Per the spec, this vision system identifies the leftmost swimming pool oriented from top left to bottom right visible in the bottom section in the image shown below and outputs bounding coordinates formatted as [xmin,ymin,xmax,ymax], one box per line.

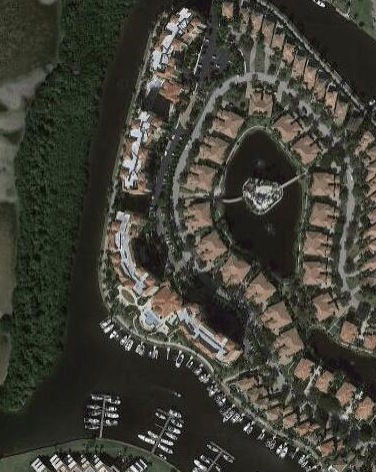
[120,287,173,335]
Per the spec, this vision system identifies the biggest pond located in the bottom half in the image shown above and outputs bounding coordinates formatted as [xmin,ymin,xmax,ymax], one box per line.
[137,236,246,349]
